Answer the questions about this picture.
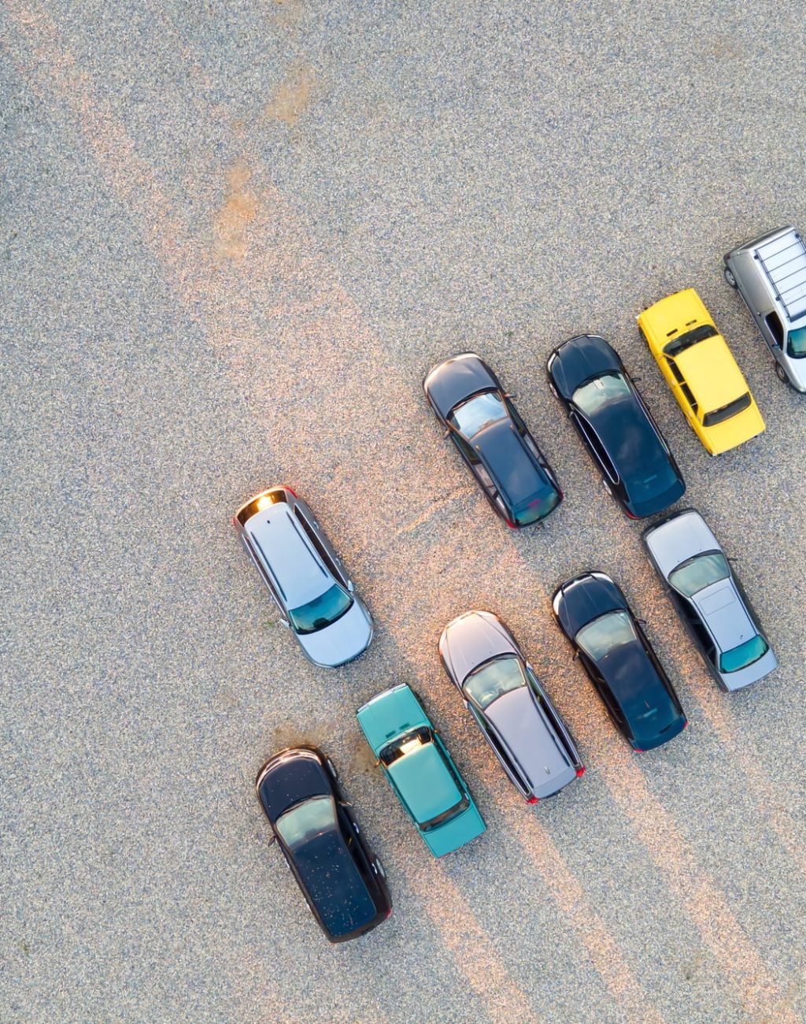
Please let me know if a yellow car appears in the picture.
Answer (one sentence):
Yes, the picture does show a yellow car.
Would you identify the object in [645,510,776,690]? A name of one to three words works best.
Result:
car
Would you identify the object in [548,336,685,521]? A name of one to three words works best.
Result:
car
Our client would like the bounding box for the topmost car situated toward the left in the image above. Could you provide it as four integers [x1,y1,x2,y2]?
[237,487,369,665]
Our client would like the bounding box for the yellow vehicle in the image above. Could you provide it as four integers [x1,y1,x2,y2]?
[636,289,764,456]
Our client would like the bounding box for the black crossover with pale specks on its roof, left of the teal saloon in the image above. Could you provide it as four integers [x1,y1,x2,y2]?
[258,743,390,941]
